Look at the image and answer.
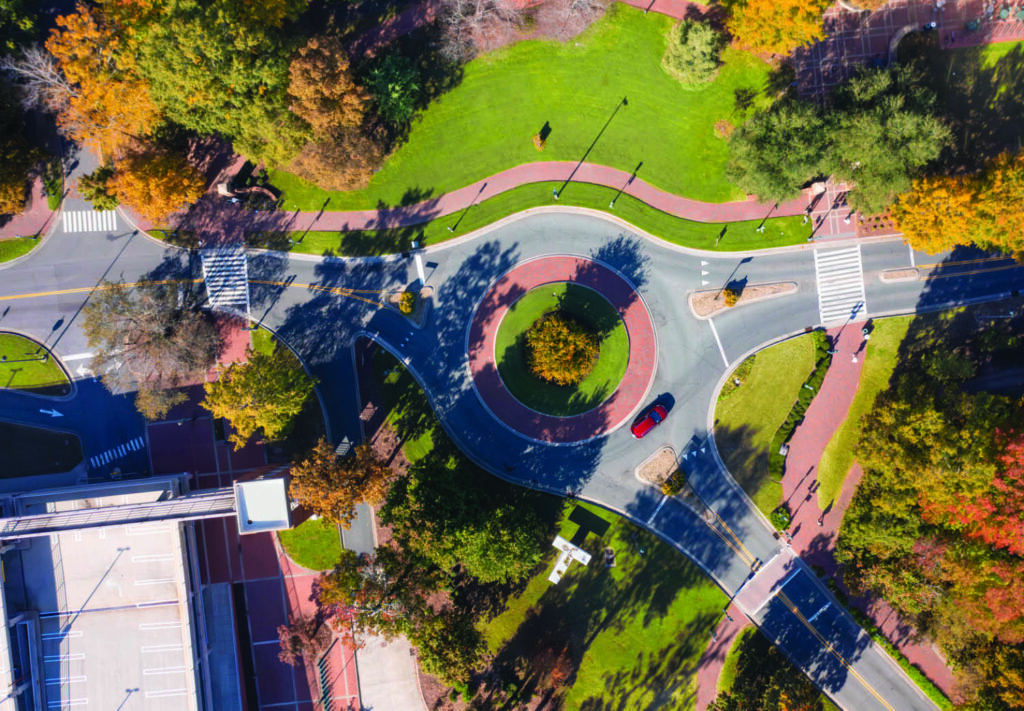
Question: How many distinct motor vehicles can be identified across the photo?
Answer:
one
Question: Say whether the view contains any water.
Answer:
No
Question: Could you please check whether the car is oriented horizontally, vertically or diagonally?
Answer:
diagonally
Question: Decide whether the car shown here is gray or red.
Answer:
red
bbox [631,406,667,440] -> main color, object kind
red car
